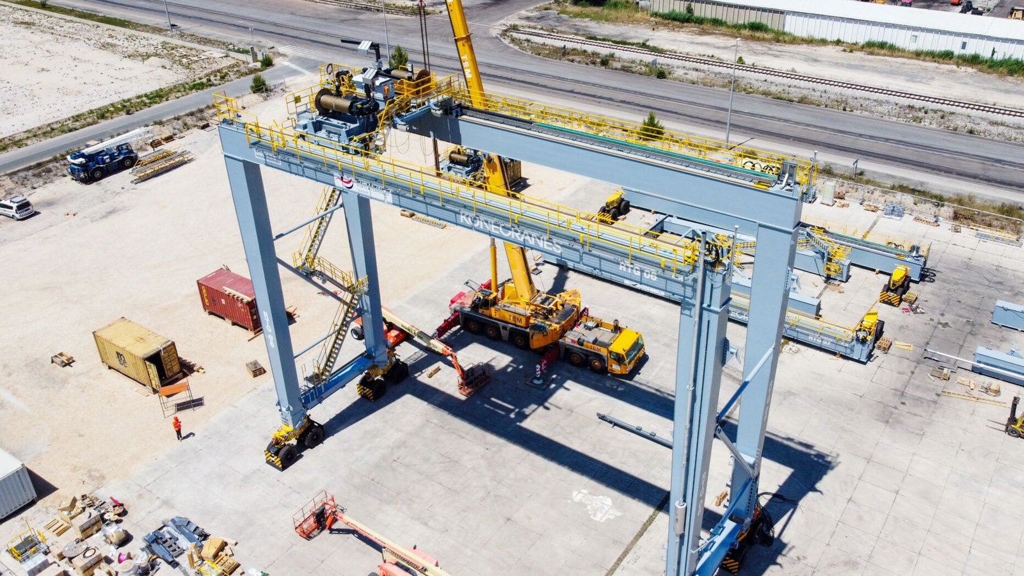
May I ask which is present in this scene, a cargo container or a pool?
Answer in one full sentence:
It is a cargo container that can be seen here.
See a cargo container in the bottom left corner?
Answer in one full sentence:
Yes, you'll find a cargo container in the bottom left corner.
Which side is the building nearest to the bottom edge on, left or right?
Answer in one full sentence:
The building nearest to the bottom edge is on the right side of the image.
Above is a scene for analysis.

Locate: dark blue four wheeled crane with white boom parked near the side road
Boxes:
[61,120,162,183]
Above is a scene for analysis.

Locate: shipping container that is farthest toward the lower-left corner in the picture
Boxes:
[0,447,36,518]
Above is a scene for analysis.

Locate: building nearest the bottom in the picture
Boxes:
[818,175,842,208]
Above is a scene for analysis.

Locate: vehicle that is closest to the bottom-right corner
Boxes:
[972,393,1024,447]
